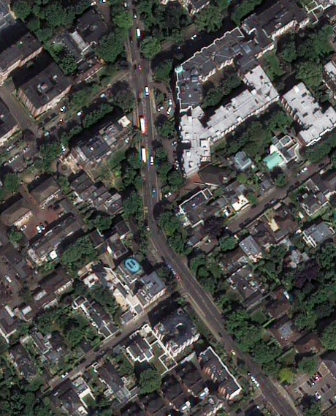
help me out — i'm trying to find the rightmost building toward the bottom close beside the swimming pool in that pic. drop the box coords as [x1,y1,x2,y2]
[136,271,166,310]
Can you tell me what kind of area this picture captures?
residential area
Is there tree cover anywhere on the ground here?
Yes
